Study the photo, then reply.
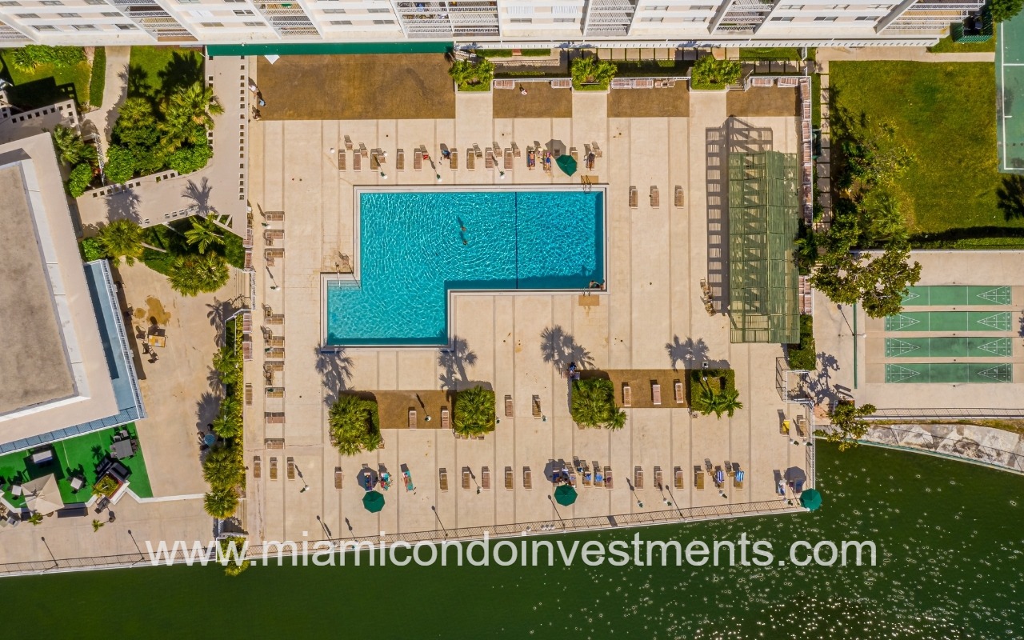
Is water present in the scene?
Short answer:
Yes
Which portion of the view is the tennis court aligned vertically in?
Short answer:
top right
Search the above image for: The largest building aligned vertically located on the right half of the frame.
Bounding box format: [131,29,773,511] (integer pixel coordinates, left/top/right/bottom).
[728,147,799,350]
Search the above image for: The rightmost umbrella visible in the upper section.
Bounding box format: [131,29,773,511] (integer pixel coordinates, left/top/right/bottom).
[554,152,576,175]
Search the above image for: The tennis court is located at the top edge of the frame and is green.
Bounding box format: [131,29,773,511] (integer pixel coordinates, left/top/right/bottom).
[995,9,1024,173]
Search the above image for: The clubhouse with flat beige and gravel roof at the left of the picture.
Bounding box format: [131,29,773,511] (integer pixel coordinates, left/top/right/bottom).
[0,132,146,457]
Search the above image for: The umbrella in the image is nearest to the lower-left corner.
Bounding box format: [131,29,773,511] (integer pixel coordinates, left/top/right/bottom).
[9,473,65,515]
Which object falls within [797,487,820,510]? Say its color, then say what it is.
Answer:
green umbrella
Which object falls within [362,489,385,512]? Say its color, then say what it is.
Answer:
green umbrella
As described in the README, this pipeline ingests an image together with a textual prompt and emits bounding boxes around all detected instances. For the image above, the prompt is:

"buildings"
[728,147,799,350]
[0,132,146,457]
[0,0,1012,52]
